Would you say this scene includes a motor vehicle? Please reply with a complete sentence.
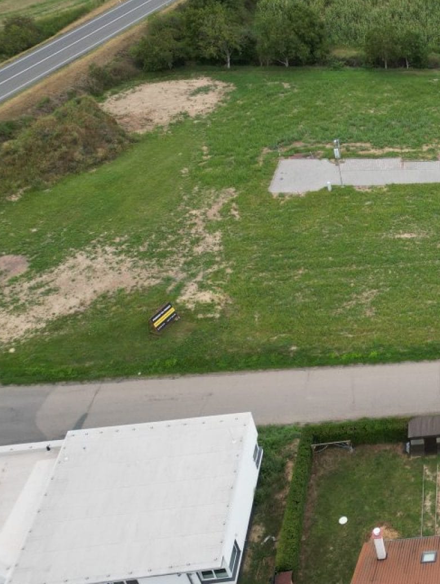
No, there's no motor vehicle here.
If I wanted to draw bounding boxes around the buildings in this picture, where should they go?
[356,535,440,584]
[3,415,260,584]
[406,408,440,460]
